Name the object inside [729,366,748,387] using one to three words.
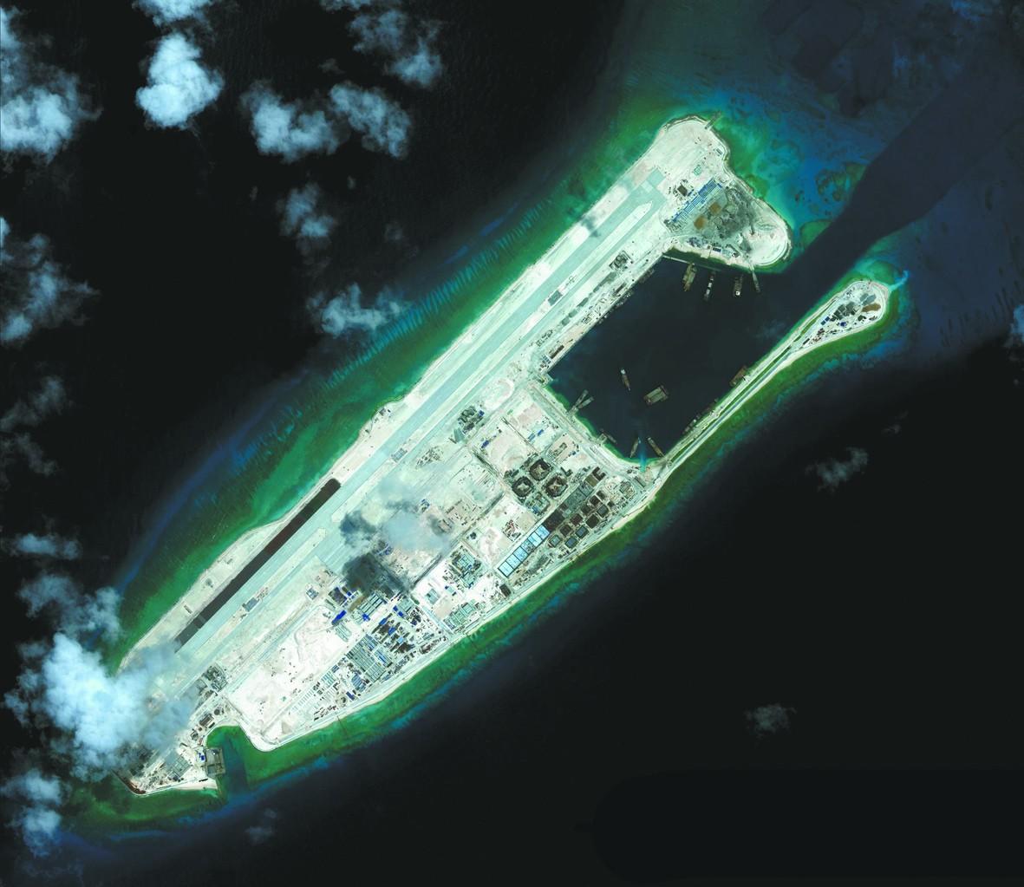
ship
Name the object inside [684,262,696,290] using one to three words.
ship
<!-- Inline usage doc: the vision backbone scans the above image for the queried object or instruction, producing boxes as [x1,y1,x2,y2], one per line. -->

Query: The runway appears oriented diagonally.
[120,185,651,722]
